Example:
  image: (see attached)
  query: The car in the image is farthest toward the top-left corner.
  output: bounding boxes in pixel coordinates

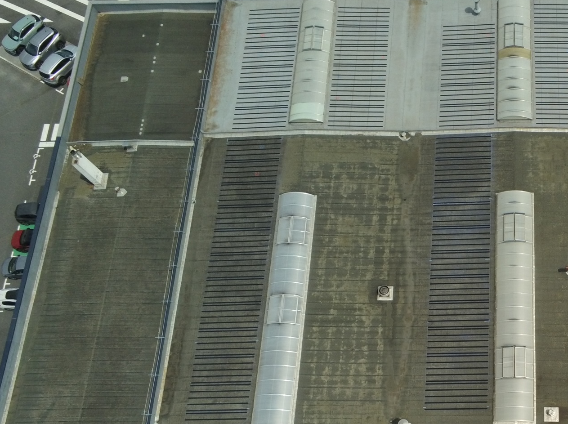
[1,15,47,52]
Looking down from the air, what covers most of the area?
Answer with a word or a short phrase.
buildings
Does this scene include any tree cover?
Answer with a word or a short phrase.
No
